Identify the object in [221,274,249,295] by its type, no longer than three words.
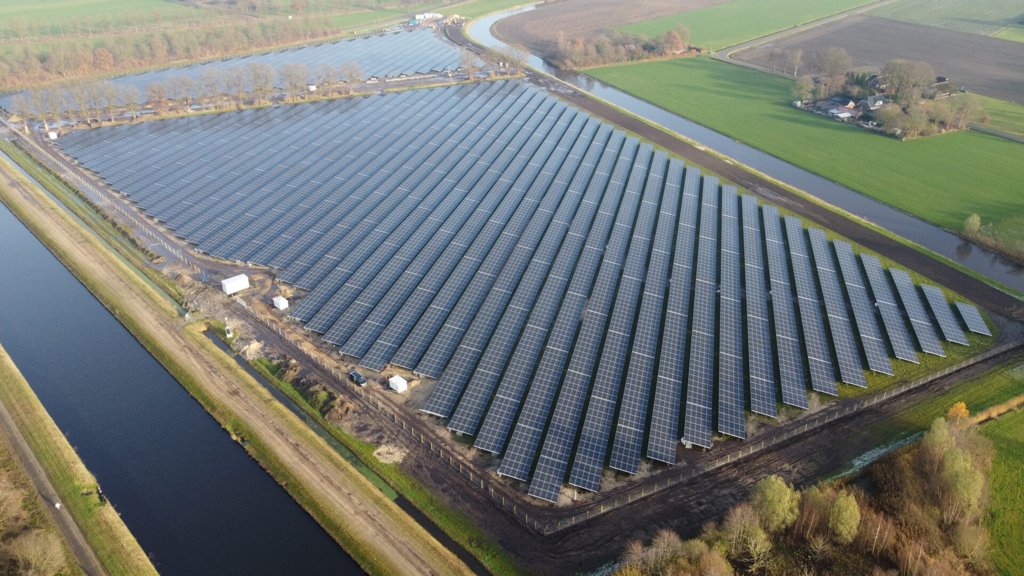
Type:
building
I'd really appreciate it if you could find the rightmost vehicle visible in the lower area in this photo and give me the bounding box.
[347,368,368,387]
